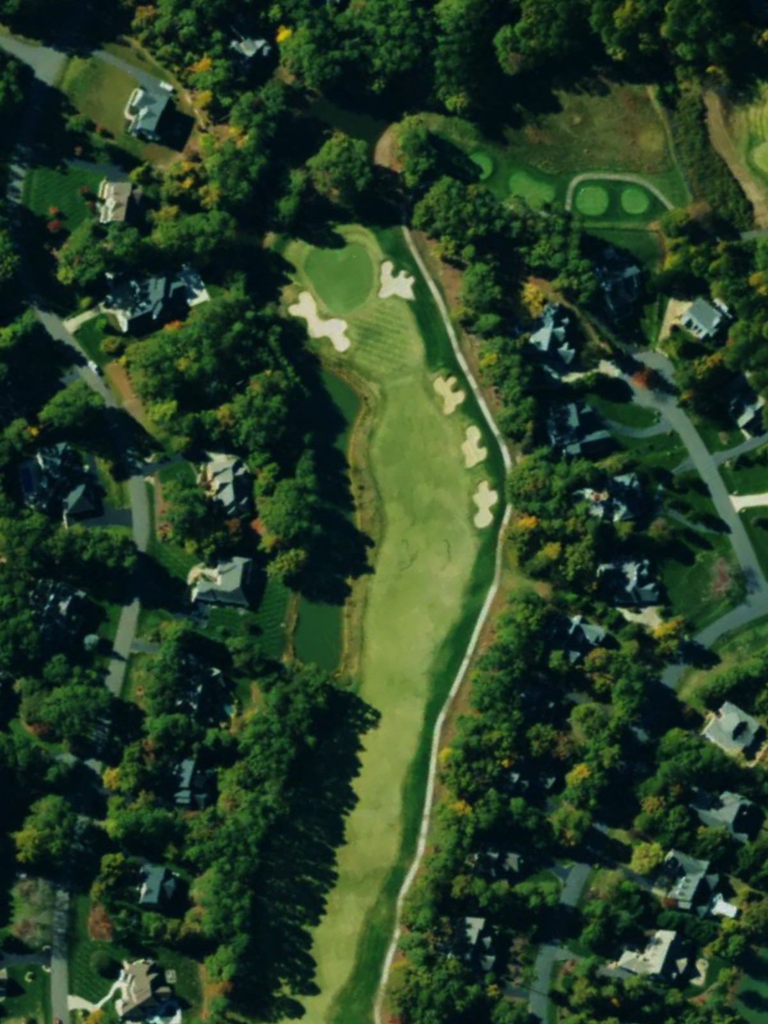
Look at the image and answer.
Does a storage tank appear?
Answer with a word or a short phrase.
No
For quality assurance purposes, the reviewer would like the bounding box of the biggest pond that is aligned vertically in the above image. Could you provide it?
[295,366,360,671]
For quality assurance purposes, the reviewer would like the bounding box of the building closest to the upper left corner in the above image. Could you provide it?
[135,88,173,141]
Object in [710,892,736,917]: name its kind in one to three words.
building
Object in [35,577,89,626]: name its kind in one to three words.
house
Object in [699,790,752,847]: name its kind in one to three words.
house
